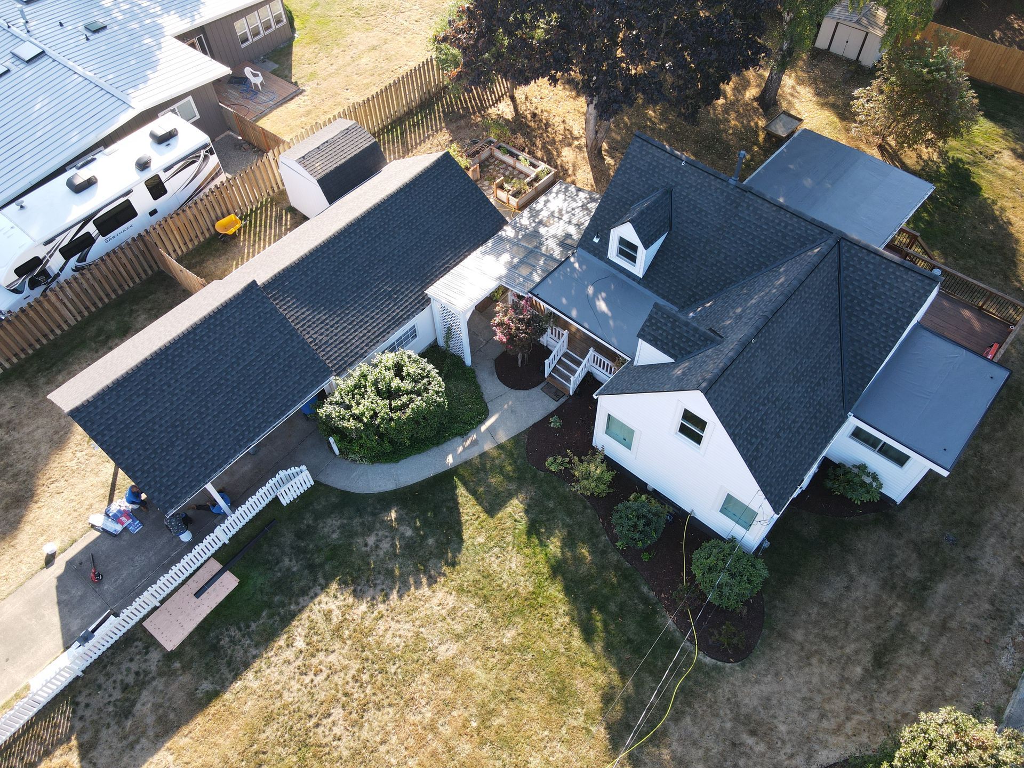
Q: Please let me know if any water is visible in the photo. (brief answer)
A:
No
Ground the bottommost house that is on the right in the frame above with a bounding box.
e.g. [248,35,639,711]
[527,128,1011,544]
